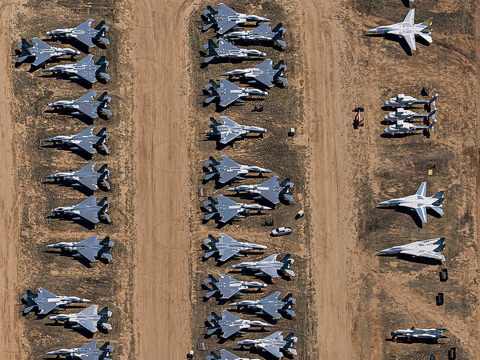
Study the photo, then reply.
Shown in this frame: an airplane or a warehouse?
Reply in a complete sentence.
Of the two, only an airplane appears.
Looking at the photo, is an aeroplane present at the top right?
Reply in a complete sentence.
Yes, an aeroplane appears at the top right.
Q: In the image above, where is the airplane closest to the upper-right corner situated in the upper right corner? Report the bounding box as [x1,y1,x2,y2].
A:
[367,10,431,51]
